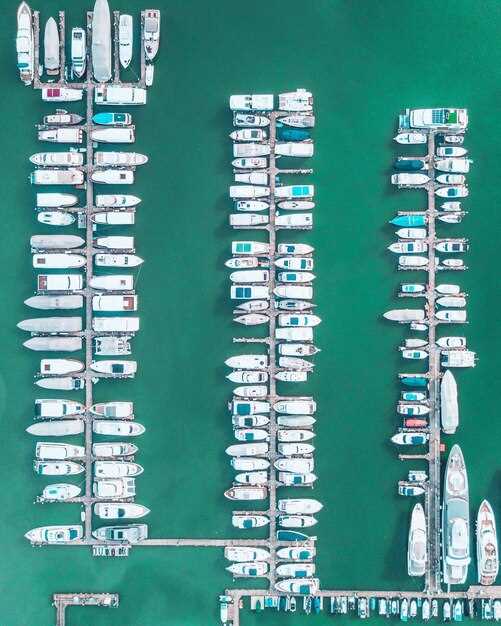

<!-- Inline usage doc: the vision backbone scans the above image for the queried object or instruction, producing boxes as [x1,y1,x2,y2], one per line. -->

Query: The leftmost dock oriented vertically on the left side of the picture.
[27,10,147,547]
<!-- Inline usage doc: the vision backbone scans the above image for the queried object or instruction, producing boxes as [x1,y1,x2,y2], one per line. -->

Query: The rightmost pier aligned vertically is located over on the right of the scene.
[396,128,469,589]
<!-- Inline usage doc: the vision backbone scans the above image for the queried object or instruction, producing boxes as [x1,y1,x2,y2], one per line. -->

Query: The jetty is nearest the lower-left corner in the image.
[53,591,120,626]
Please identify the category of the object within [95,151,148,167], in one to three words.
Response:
boat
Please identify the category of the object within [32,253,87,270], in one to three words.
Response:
boat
